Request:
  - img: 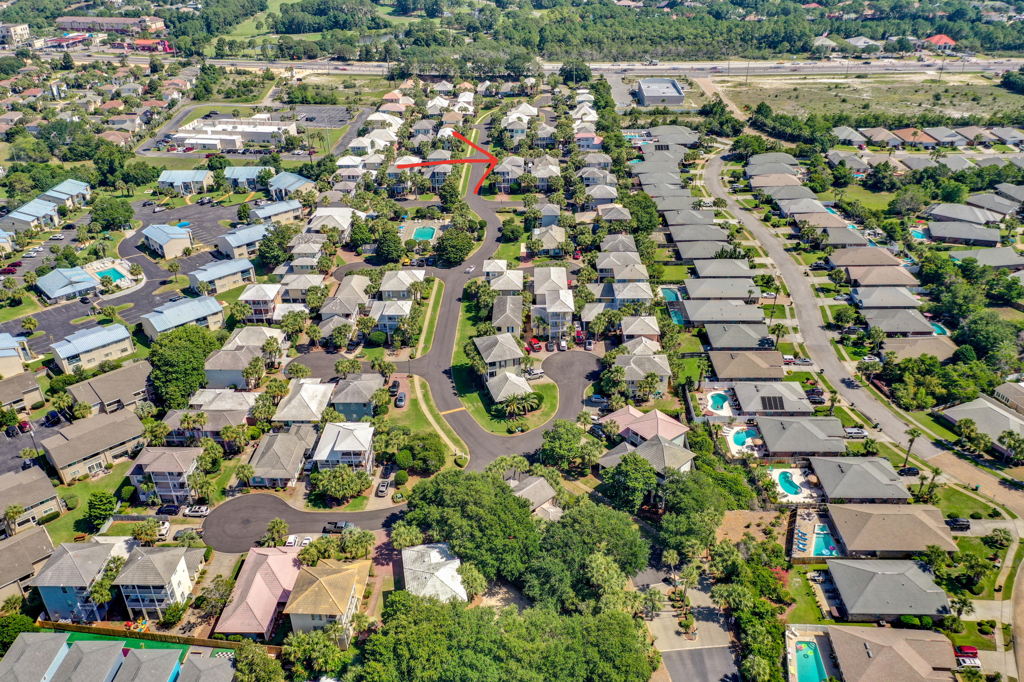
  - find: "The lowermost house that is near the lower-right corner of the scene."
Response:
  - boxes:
[824,625,956,682]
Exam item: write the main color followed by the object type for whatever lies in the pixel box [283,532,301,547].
white car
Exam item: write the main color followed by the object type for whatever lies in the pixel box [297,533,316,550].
white car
